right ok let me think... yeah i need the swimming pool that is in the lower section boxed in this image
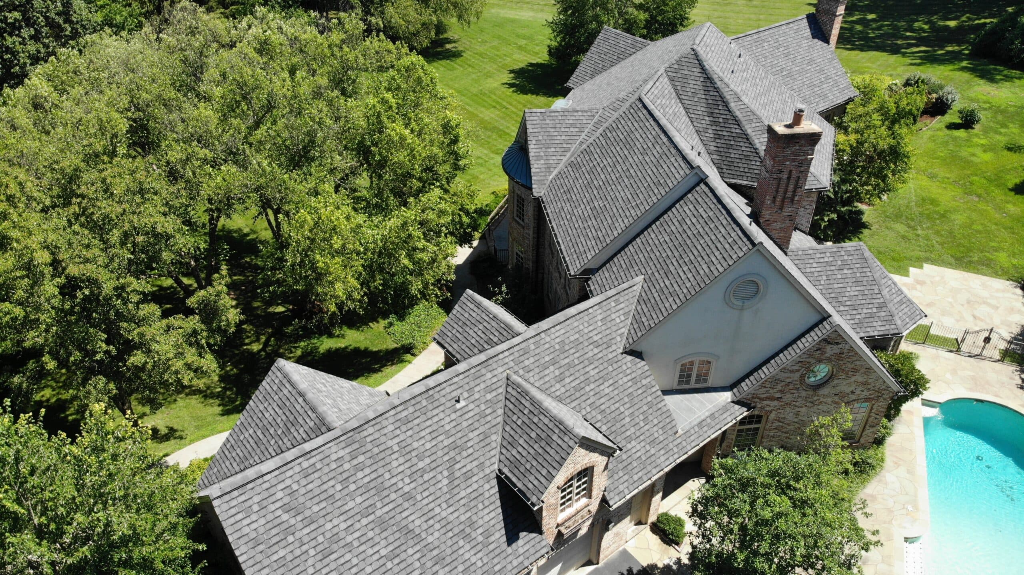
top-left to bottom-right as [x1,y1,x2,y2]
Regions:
[893,392,1024,575]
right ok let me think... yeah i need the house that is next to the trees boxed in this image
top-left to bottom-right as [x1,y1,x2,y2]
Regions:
[191,0,928,575]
